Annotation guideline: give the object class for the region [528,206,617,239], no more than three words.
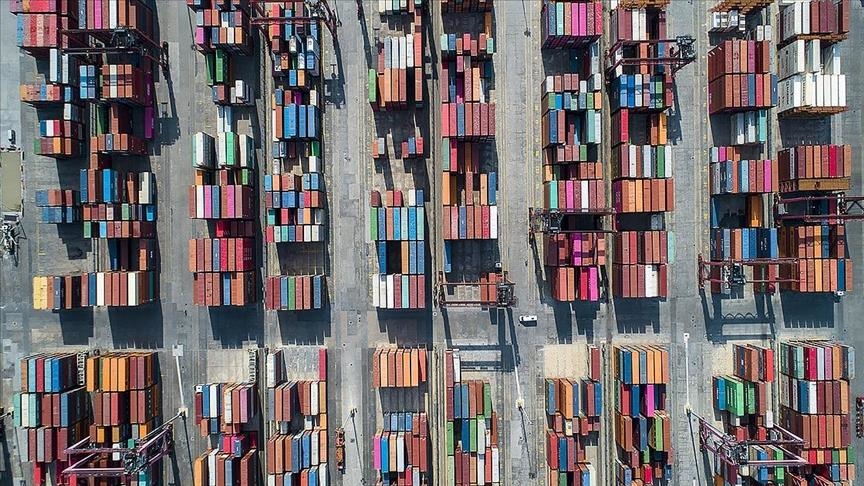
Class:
container crane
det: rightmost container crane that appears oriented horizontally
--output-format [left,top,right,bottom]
[778,195,864,224]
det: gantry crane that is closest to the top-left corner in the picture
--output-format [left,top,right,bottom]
[59,25,167,70]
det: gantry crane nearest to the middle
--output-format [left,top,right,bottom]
[437,274,517,308]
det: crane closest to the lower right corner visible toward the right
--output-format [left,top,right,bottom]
[701,421,807,467]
